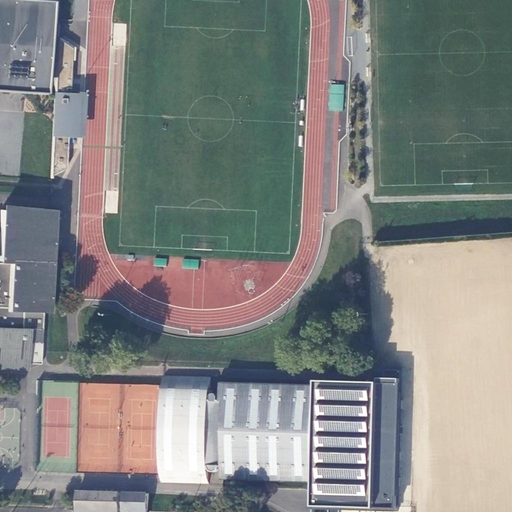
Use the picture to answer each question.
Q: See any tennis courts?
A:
Yes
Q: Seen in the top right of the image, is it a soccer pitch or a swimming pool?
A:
soccer pitch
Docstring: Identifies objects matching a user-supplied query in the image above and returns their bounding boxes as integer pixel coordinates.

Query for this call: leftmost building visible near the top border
[0,0,64,95]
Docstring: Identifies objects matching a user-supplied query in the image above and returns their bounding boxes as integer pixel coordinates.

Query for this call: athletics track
[76,0,334,333]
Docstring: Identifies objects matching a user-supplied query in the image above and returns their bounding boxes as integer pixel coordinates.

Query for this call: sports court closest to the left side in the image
[0,408,20,471]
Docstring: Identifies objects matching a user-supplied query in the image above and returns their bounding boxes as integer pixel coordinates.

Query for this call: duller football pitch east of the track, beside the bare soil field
[372,0,512,195]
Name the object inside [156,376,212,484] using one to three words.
building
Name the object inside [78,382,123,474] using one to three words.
tennis court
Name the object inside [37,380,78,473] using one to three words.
tennis court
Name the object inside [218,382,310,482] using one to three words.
building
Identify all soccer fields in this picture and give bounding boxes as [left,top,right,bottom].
[372,0,512,195]
[104,0,312,262]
